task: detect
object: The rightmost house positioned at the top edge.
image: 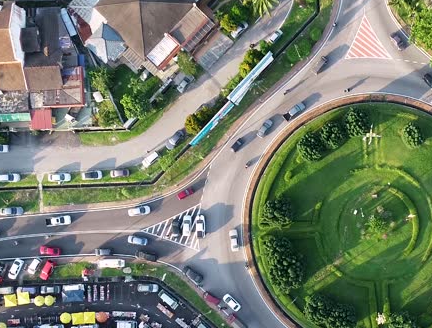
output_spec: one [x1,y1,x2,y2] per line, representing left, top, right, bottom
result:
[68,0,219,76]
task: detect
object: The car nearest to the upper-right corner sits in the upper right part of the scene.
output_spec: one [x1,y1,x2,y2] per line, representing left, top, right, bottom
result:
[390,32,404,51]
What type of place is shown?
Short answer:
residential area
